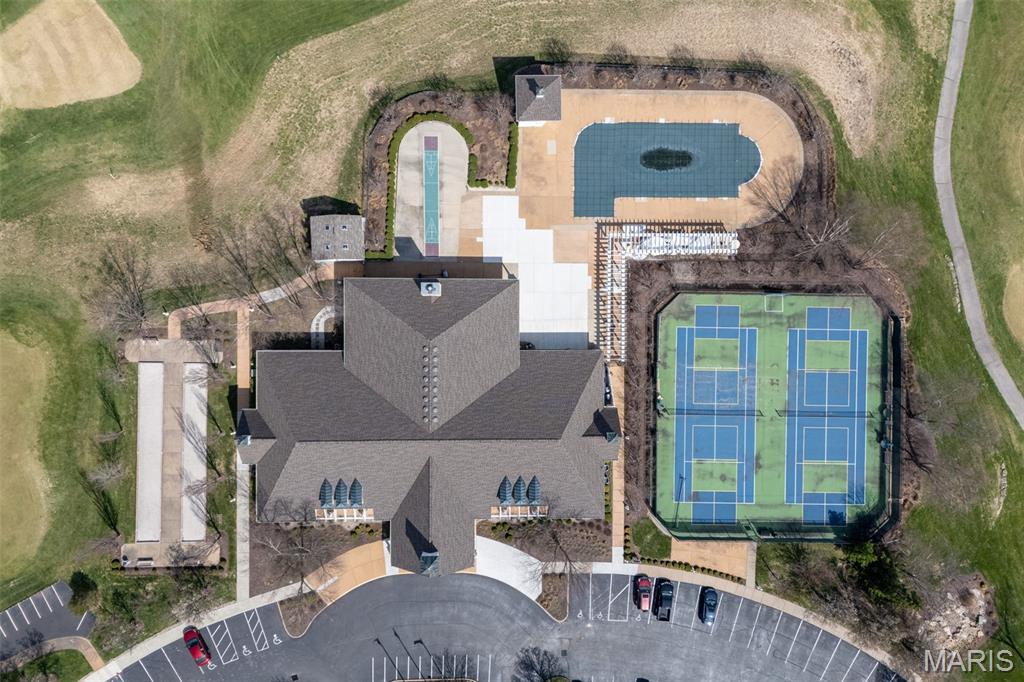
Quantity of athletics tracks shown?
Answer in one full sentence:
There are no athletics tracks in this view.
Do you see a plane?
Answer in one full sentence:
No, there's no plane here.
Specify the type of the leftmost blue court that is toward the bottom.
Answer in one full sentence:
In the photo, the leftmost blue court that is toward the bottom shows up as a tennis court.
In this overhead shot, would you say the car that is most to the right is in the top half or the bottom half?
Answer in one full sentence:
The bottom half of the photo is where the car that is most to the right is.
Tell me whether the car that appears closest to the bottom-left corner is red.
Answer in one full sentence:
Yes, the car that appears closest to the bottom-left corner appears red.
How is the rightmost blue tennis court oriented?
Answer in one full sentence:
I'd say the rightmost blue tennis court is aligned vertically in the picture.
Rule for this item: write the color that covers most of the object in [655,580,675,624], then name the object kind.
black vehicle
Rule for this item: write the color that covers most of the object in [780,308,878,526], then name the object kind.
blue tennis court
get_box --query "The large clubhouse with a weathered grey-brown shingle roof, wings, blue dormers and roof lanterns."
[236,278,620,578]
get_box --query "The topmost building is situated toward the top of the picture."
[515,74,562,127]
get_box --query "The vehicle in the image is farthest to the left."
[185,629,210,668]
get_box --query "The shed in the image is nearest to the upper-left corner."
[311,214,366,262]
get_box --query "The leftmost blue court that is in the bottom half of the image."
[668,306,765,525]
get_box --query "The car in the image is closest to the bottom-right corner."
[699,587,719,625]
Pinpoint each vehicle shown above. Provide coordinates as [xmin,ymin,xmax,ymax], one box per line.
[185,629,210,668]
[655,580,675,624]
[699,587,719,625]
[635,577,653,612]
